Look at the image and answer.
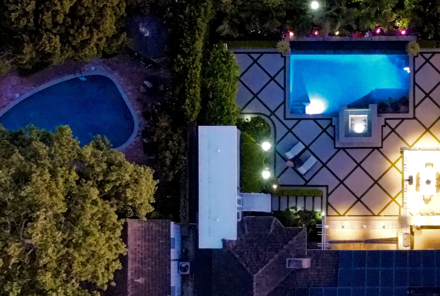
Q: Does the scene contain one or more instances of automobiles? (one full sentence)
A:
No, the photo shows no automobile.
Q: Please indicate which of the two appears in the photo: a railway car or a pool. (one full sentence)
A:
This aerial view contains a pool.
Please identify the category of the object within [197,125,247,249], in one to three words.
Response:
building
